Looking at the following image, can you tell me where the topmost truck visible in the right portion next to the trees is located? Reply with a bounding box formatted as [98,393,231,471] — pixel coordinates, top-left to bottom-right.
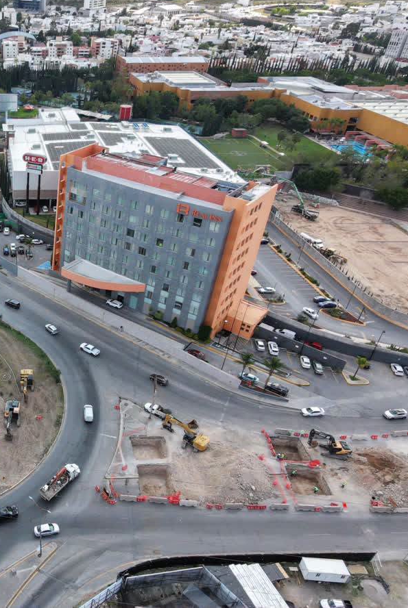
[241,170,316,218]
